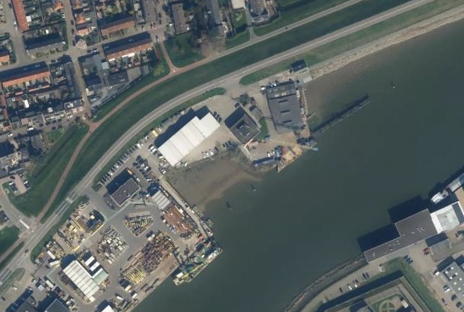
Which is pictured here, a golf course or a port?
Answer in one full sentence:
This looks like a port.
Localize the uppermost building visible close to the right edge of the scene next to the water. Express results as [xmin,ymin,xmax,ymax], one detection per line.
[430,202,464,233]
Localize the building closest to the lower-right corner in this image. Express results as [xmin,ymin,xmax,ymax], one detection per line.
[443,262,464,298]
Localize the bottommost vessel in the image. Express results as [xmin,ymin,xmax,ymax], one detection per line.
[173,246,222,285]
